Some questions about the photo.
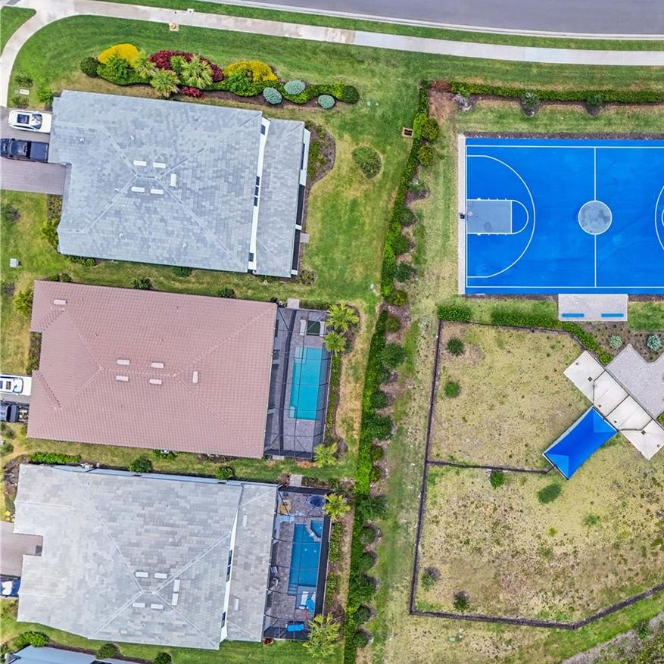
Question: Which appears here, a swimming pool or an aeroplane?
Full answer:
There is a swimming pool in the scene.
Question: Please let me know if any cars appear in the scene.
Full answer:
Yes, the frame does contain a car.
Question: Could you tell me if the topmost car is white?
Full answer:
Yes, white is the color of the topmost car.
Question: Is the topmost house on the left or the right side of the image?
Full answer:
You can find the topmost house on the left side of the picture.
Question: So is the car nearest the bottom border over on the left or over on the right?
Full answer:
The car nearest the bottom border sits on the left side.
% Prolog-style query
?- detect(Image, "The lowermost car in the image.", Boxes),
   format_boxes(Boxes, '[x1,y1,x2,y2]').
[0,575,20,598]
